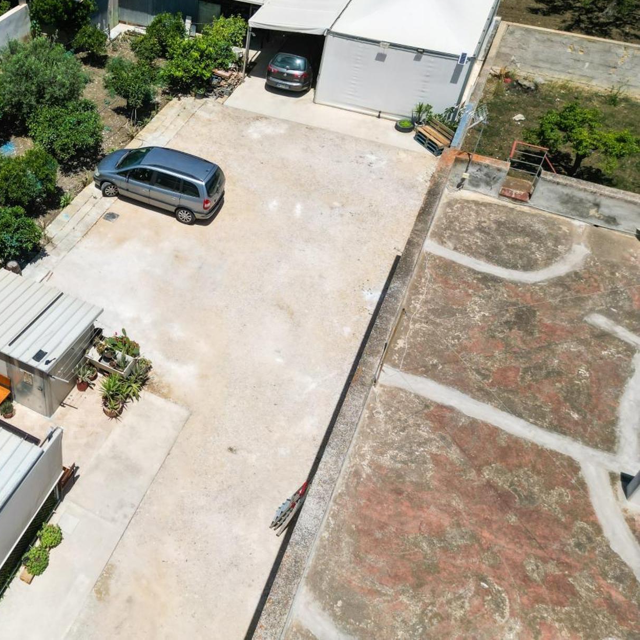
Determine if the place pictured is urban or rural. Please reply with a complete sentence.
It looks urban.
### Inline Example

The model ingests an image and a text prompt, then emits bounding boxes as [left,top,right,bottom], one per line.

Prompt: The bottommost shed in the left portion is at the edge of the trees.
[0,268,104,427]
